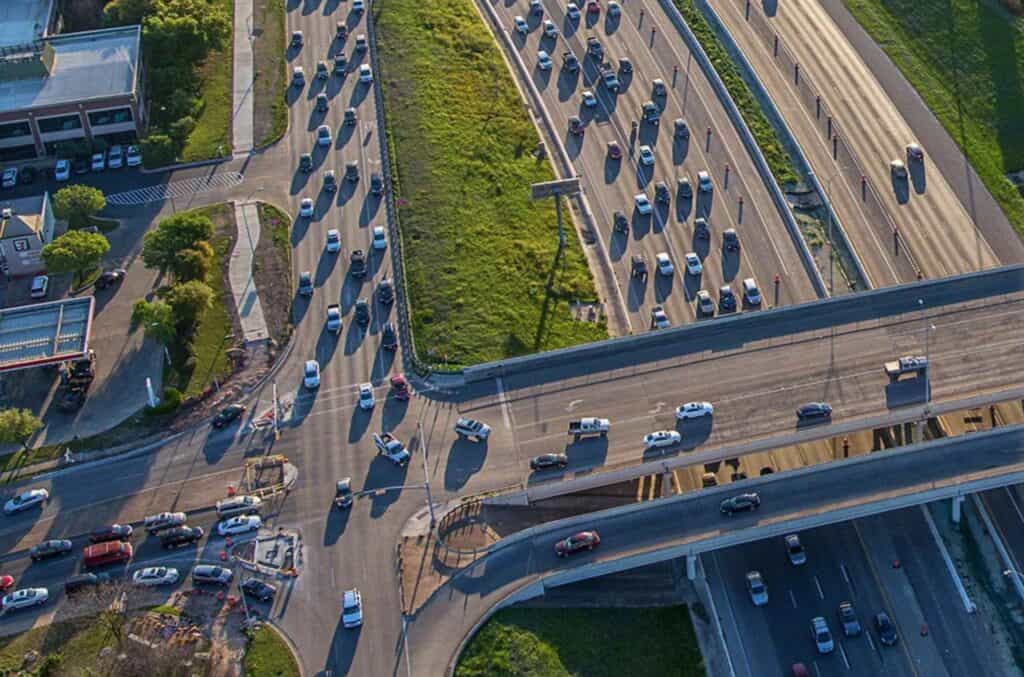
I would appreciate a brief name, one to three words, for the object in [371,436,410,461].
truck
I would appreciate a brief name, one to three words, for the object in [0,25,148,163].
building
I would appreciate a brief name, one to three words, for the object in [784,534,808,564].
car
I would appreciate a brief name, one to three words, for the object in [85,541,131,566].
vehicle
